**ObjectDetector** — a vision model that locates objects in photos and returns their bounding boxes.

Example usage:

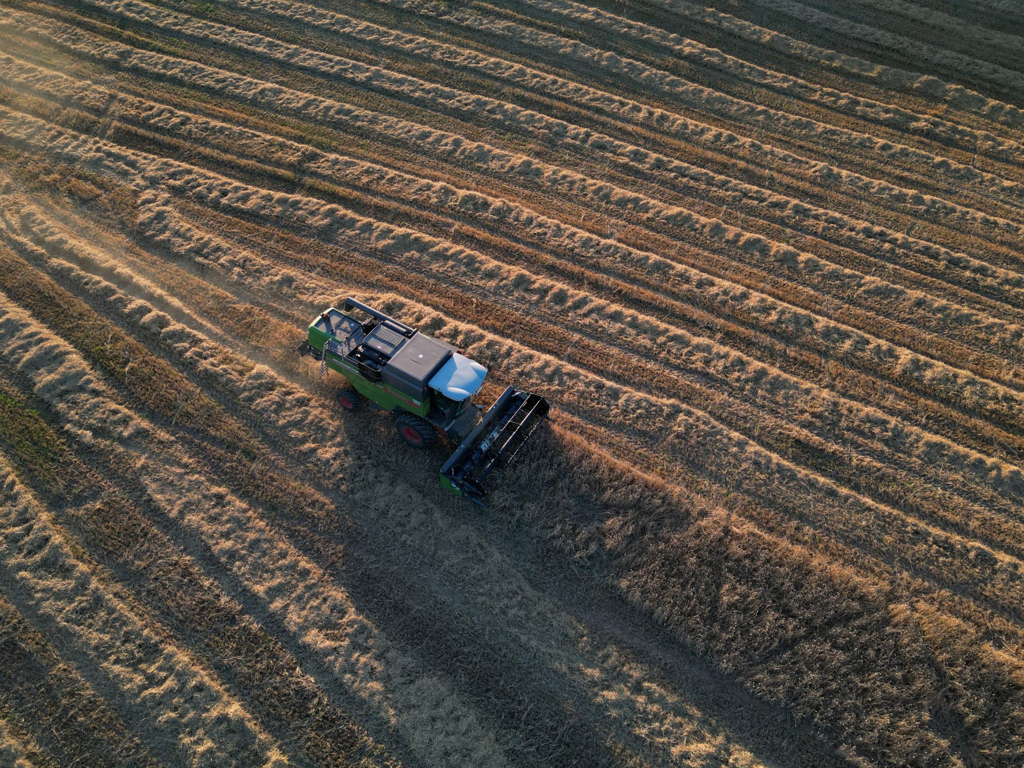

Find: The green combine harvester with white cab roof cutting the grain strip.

[297,296,554,509]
